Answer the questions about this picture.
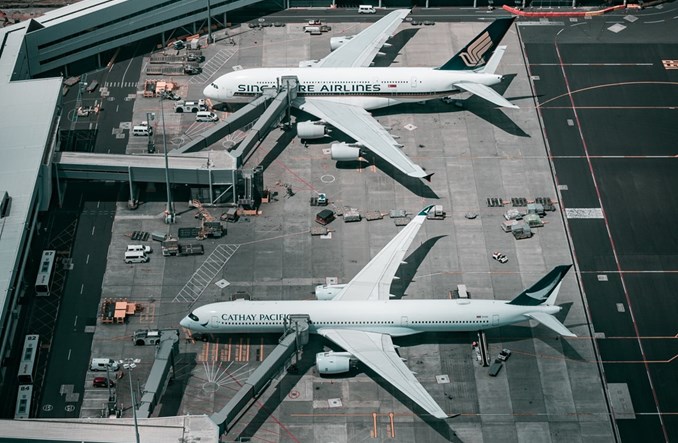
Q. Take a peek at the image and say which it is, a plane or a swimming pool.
plane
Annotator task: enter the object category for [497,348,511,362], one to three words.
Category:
vehicle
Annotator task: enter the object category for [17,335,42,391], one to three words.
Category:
bus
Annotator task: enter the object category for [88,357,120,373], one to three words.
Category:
vehicle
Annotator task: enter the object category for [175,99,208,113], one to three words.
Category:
work vehicle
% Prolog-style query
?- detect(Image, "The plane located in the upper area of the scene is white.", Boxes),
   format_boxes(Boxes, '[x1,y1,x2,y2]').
[203,3,522,179]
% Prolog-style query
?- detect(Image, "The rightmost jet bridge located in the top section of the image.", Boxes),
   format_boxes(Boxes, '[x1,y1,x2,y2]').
[229,75,303,199]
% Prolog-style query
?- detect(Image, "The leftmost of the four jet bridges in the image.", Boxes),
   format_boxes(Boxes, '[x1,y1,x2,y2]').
[123,334,186,418]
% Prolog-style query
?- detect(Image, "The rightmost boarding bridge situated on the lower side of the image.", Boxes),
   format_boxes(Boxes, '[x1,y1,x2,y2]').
[215,317,312,443]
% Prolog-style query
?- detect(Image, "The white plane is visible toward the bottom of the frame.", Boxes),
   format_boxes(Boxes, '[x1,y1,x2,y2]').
[179,205,577,417]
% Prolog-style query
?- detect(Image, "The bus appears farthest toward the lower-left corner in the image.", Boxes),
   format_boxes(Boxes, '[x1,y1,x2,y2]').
[11,387,33,418]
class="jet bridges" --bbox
[166,88,278,152]
[215,317,312,443]
[123,334,186,418]
[229,75,303,199]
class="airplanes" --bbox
[203,3,522,179]
[179,205,577,417]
